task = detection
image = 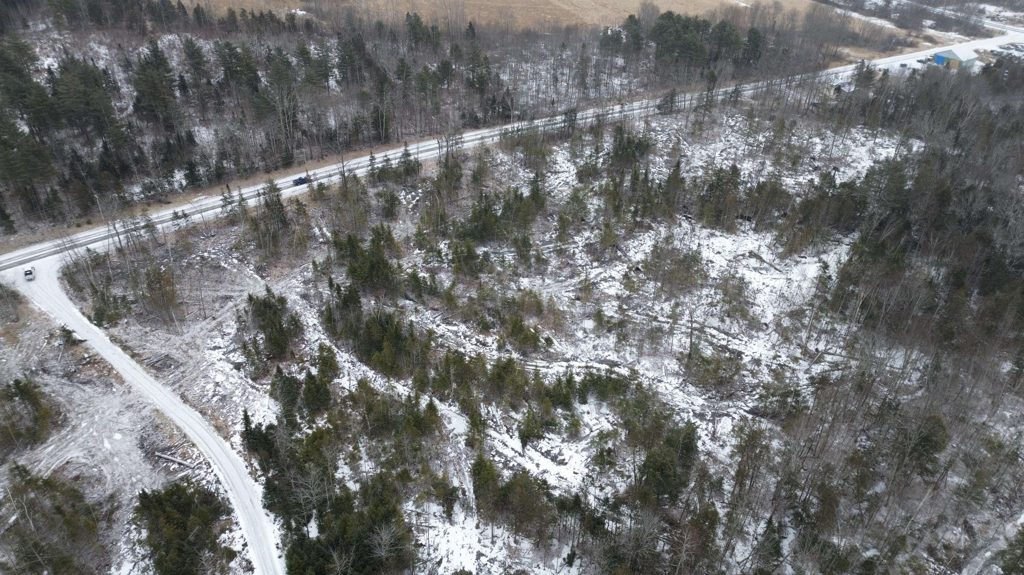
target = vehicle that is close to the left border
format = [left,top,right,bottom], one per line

[21,265,35,279]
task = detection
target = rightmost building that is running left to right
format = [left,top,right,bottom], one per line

[934,46,983,69]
